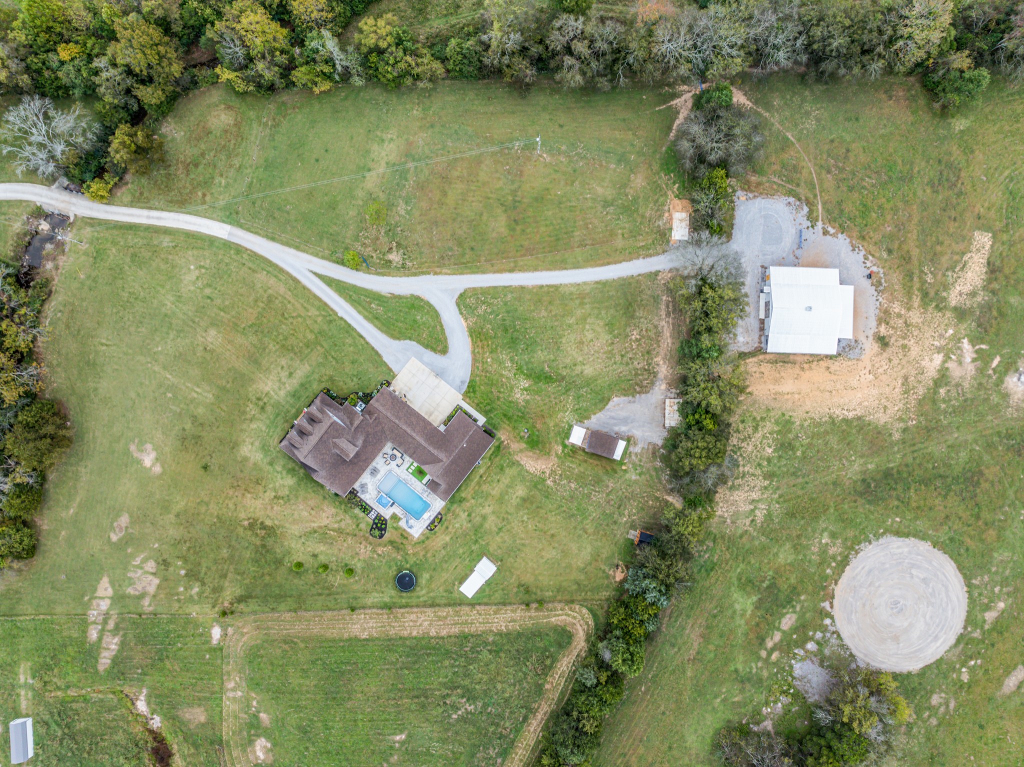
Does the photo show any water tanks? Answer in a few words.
No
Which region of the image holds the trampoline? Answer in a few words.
bottom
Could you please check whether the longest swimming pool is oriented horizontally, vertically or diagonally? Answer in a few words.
diagonally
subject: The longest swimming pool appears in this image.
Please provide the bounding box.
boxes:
[376,470,432,522]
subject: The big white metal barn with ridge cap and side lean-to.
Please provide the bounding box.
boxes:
[767,267,854,354]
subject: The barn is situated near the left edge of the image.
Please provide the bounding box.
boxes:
[10,718,34,764]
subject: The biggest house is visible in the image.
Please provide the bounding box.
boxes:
[279,386,495,502]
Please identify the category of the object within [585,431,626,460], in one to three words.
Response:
shed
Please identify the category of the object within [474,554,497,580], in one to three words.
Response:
shed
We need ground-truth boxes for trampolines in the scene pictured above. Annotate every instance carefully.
[395,572,416,593]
